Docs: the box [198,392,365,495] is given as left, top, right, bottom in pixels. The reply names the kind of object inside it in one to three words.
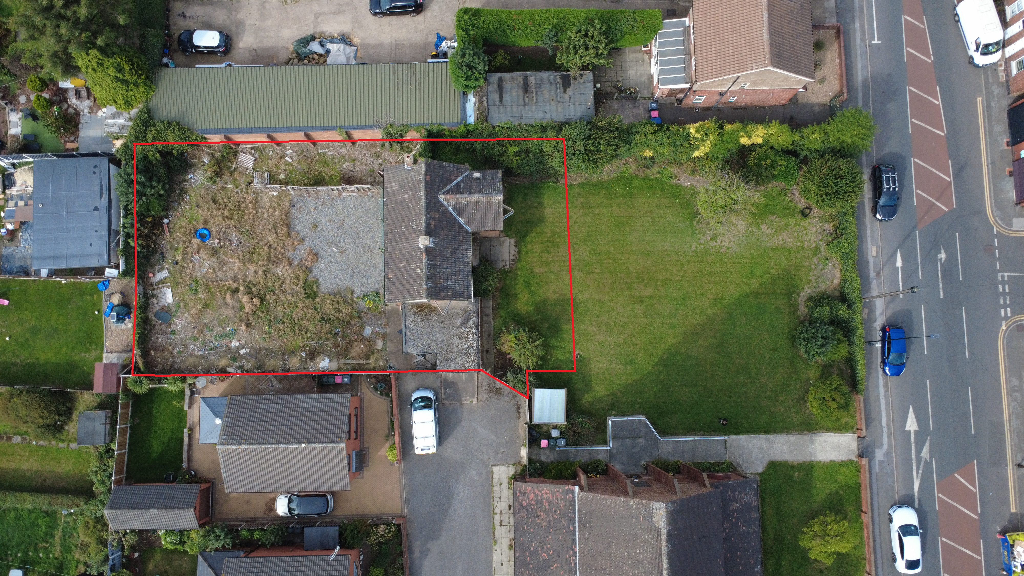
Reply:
house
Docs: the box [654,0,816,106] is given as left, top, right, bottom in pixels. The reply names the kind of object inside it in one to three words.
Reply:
house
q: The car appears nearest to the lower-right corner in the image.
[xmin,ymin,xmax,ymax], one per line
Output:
[886,505,922,572]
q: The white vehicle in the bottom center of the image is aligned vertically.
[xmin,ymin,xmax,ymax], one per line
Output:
[409,389,439,454]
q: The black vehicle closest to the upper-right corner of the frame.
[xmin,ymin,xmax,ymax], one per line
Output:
[868,167,901,223]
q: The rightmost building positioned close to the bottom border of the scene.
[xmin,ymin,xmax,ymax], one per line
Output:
[513,463,762,576]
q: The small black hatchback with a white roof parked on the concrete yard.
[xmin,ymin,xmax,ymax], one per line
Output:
[179,25,234,56]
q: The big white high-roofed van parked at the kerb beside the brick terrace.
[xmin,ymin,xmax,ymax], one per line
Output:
[950,0,1005,70]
